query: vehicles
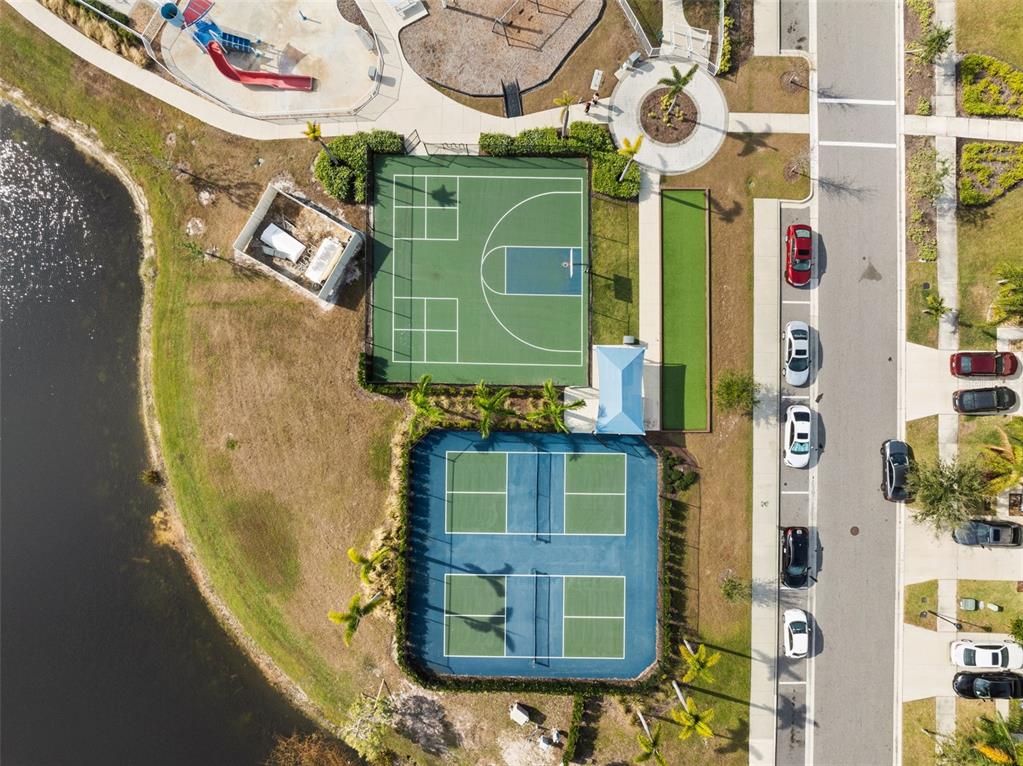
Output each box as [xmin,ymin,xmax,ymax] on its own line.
[951,384,1017,414]
[783,223,815,288]
[947,517,1023,548]
[780,321,812,386]
[780,526,813,588]
[781,606,812,659]
[879,439,915,503]
[951,667,1023,701]
[950,349,1017,380]
[950,636,1023,671]
[781,404,814,468]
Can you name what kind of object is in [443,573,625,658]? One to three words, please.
sports court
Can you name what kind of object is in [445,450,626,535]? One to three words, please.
sports court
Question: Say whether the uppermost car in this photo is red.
Yes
